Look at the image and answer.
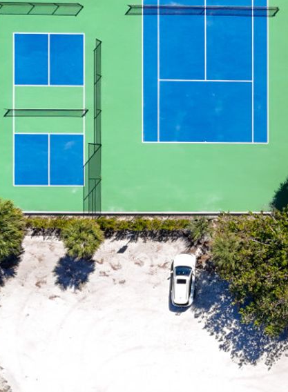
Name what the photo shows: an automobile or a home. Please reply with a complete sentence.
The image shows an automobile.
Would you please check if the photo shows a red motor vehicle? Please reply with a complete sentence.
No, I can't see a single red motor vehicle in this photo.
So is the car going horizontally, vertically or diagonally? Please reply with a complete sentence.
Seen from above, the car lies vertically.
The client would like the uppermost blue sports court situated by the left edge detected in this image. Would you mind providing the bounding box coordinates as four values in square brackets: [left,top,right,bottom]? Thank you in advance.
[14,33,84,187]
